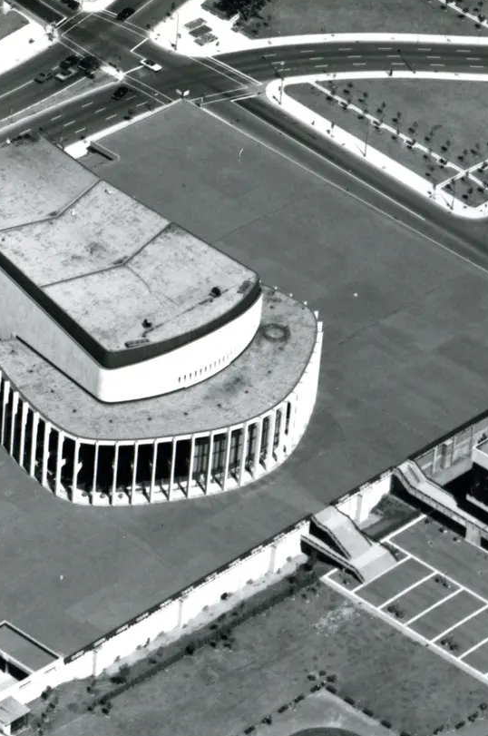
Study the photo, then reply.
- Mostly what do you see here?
buildings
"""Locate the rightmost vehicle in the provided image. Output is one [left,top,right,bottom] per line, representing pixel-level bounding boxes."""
[139,59,164,74]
